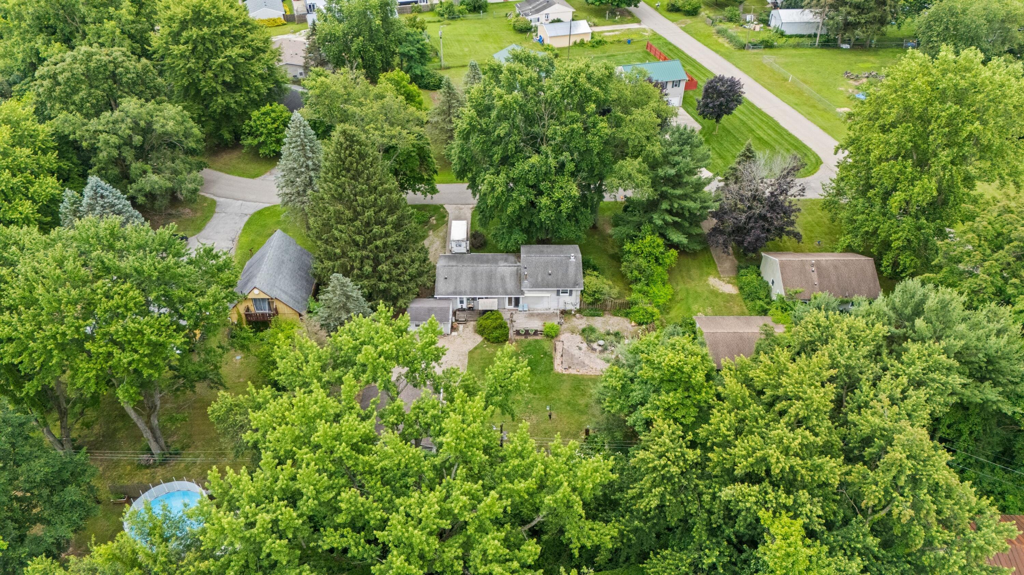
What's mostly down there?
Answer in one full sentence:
The bulk of the photo consists of trees.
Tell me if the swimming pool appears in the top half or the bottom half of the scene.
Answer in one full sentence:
It is in the bottom half that the swimming pool appears.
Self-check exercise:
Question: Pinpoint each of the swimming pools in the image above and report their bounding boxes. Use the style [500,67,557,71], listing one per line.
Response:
[120,478,213,563]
